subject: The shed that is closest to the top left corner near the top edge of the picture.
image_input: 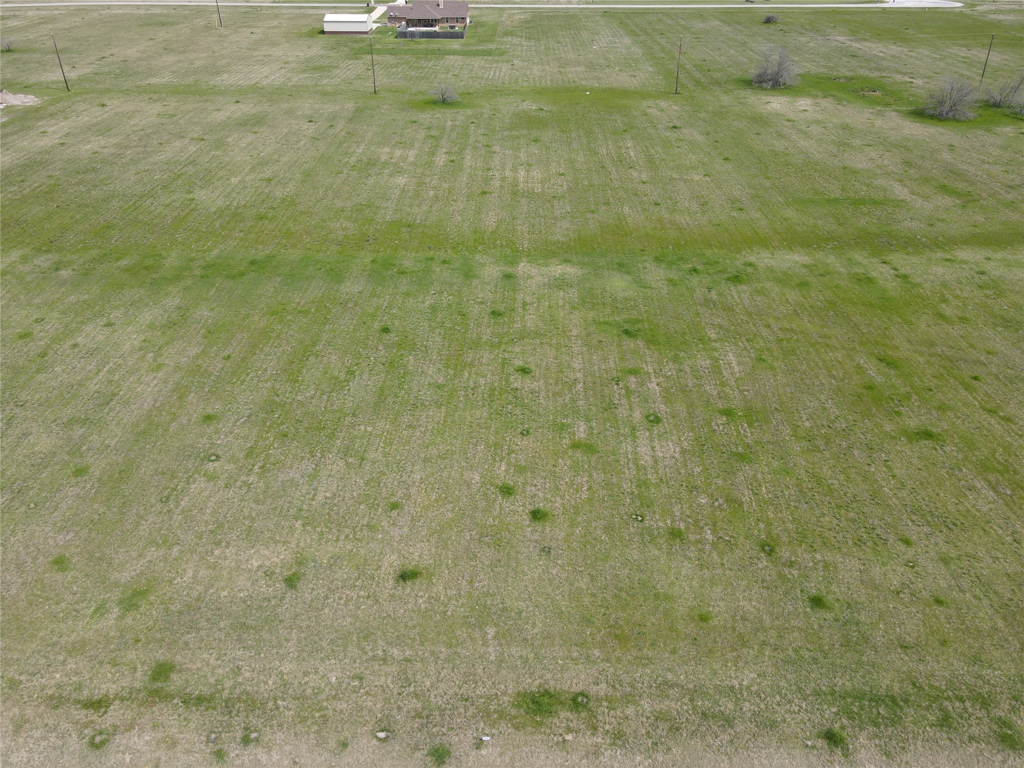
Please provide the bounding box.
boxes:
[322,14,373,35]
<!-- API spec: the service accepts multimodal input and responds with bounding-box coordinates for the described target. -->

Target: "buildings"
[385,0,470,28]
[322,14,373,35]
